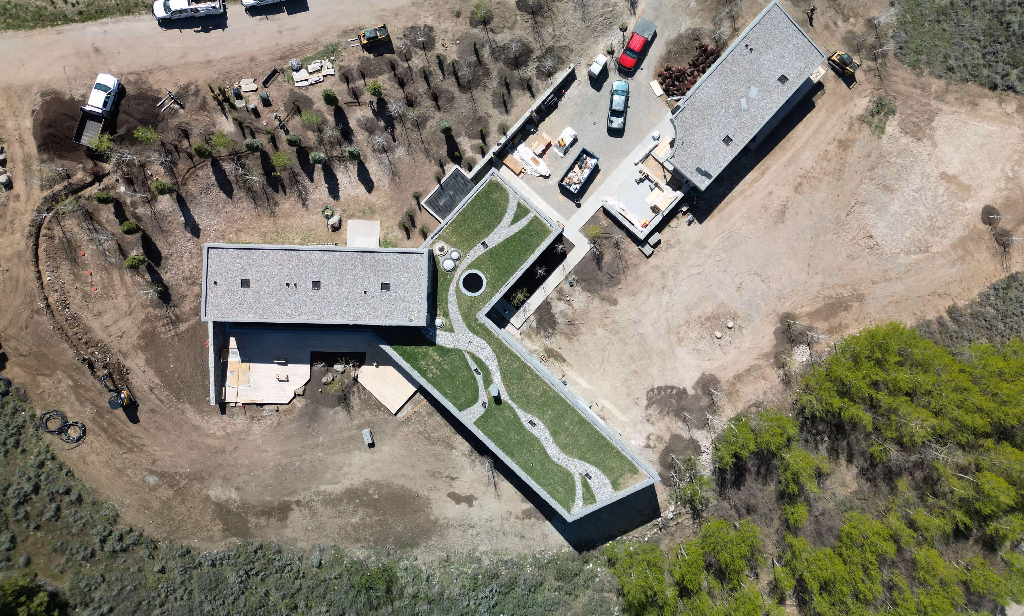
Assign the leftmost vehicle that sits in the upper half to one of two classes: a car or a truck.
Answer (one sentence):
Looking closely, the leftmost vehicle that sits in the upper half is a truck.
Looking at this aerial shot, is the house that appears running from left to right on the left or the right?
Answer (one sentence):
The house that appears running from left to right appears in the left half of the scene.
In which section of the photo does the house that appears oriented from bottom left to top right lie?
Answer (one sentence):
The house that appears oriented from bottom left to top right is located in the top right region of the scene.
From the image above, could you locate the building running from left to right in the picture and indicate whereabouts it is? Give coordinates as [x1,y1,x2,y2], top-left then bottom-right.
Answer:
[201,243,431,327]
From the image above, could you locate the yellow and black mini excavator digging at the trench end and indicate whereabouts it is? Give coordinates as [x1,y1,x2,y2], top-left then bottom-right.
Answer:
[104,374,144,419]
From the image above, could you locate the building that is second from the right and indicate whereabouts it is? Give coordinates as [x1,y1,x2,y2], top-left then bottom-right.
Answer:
[371,168,660,523]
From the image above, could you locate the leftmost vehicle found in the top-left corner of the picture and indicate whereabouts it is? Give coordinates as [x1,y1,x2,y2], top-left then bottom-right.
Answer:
[71,73,123,148]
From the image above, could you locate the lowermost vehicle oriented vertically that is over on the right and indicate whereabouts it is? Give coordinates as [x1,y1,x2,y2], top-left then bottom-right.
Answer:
[607,78,631,132]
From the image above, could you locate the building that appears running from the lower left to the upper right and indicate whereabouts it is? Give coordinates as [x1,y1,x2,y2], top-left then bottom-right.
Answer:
[665,0,827,191]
